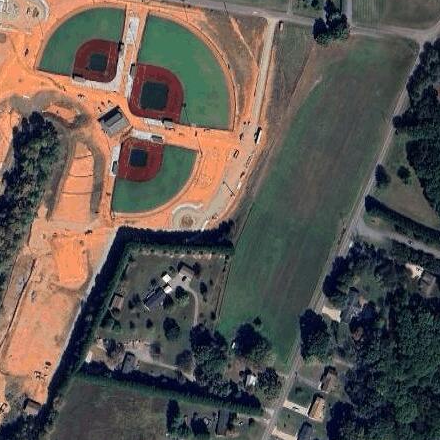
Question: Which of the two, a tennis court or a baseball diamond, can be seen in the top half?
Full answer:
The feature located in the top half is a baseball diamond.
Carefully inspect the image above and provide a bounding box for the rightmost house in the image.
[416,268,438,291]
